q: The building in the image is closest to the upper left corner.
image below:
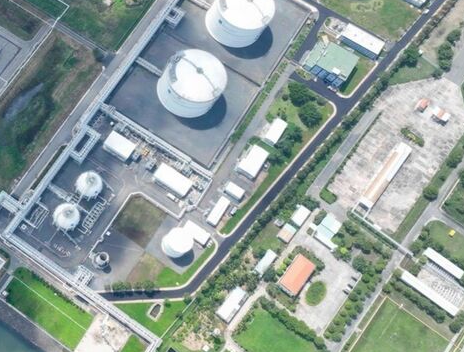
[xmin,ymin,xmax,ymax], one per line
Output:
[103,131,135,159]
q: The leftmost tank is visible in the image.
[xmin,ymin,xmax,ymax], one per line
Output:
[50,202,80,232]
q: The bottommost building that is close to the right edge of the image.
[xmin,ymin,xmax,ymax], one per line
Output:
[400,271,459,316]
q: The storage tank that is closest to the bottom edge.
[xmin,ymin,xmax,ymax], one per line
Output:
[160,223,195,256]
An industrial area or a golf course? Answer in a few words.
industrial area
